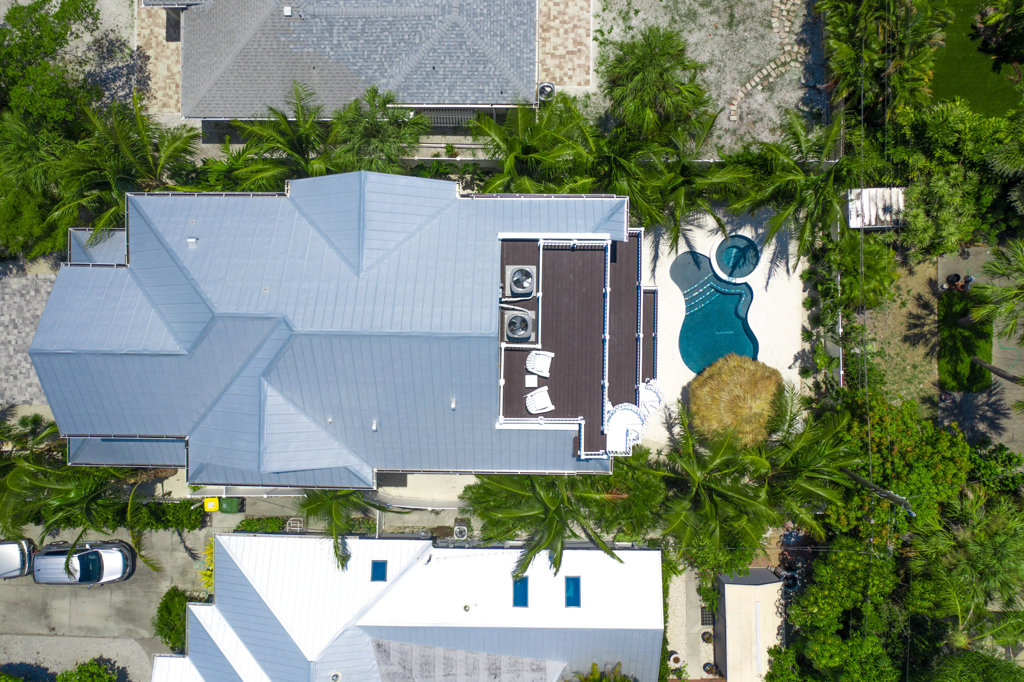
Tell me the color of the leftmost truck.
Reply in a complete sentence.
The leftmost truck is white.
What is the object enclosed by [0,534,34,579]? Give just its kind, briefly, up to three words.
truck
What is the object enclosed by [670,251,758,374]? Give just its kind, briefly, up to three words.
swimming pool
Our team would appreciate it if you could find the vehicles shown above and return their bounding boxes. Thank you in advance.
[27,539,136,592]
[0,534,34,579]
